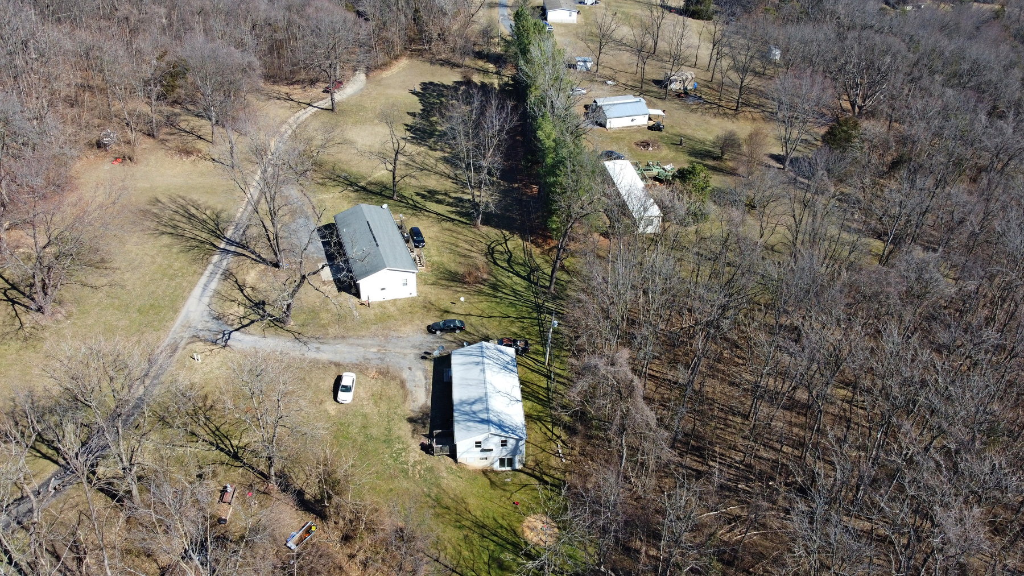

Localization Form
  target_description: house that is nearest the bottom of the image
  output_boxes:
[452,343,528,467]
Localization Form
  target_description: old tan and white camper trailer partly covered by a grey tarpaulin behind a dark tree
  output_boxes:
[670,74,694,90]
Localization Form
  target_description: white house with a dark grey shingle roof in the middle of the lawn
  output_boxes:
[334,203,419,298]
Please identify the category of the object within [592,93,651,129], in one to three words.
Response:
barn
